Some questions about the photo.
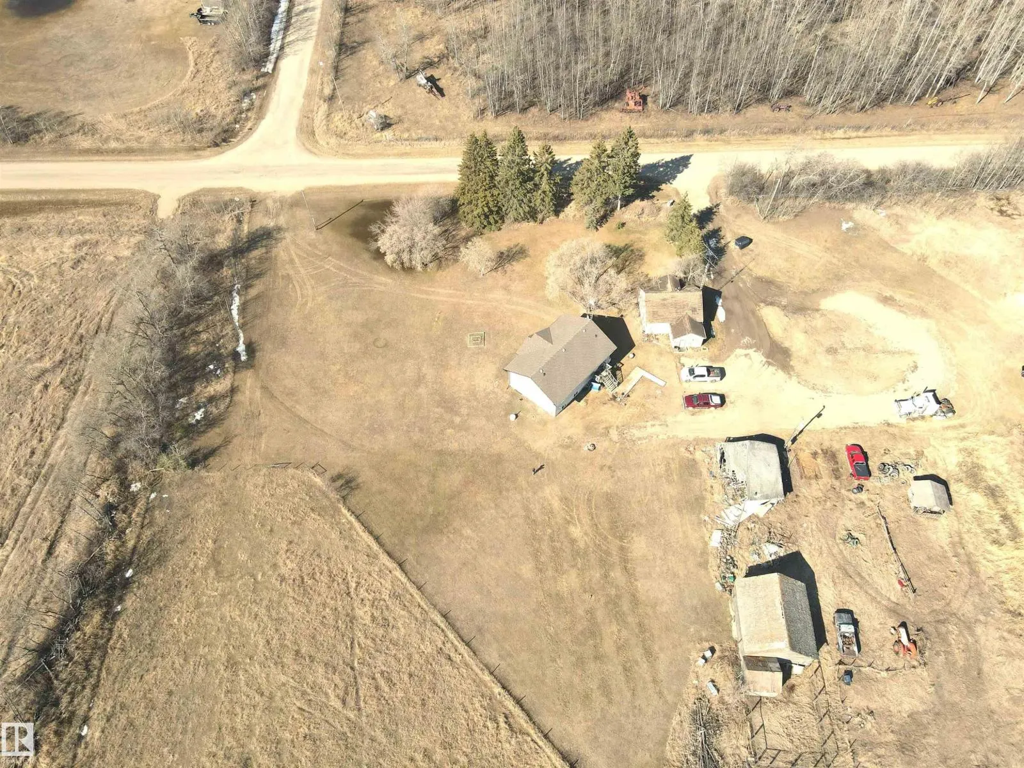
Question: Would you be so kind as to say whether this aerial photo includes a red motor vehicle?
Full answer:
Yes, there's a red motor vehicle down there.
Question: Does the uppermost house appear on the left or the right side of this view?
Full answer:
It is on the right.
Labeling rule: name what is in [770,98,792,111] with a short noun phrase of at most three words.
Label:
vehicle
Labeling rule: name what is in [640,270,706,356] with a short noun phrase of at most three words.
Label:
house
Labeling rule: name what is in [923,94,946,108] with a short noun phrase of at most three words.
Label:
work vehicle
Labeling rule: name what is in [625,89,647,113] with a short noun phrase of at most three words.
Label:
work vehicle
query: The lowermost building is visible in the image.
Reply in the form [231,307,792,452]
[730,570,819,702]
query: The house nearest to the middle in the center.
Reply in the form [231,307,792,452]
[502,316,617,415]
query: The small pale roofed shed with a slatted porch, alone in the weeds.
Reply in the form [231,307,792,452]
[904,478,951,527]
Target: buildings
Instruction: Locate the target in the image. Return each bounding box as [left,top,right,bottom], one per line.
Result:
[640,270,706,356]
[711,440,784,540]
[904,478,951,527]
[730,570,819,702]
[502,316,617,415]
